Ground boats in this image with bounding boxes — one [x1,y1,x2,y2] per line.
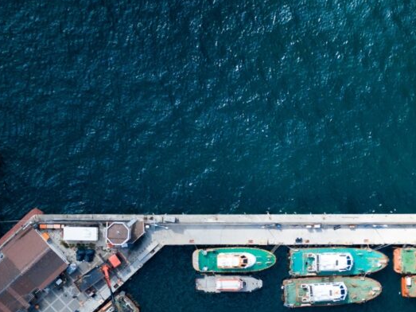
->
[290,248,389,278]
[283,277,382,308]
[393,246,416,275]
[401,275,416,298]
[196,275,262,294]
[193,247,277,274]
[100,292,138,312]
